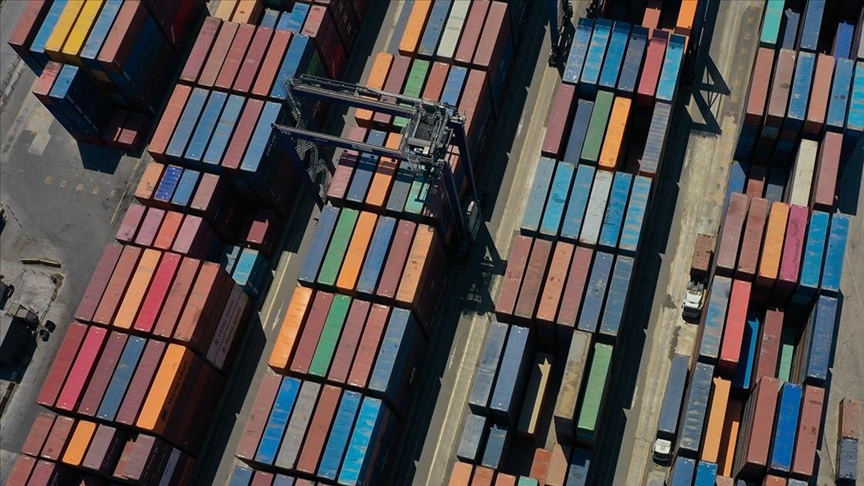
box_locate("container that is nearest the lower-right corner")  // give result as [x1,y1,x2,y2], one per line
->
[830,440,858,486]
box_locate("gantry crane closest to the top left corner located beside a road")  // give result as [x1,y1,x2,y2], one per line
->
[267,66,487,262]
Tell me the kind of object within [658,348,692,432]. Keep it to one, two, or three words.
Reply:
shipping container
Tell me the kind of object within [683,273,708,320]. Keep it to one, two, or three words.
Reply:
truck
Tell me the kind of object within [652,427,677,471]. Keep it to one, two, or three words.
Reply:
truck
